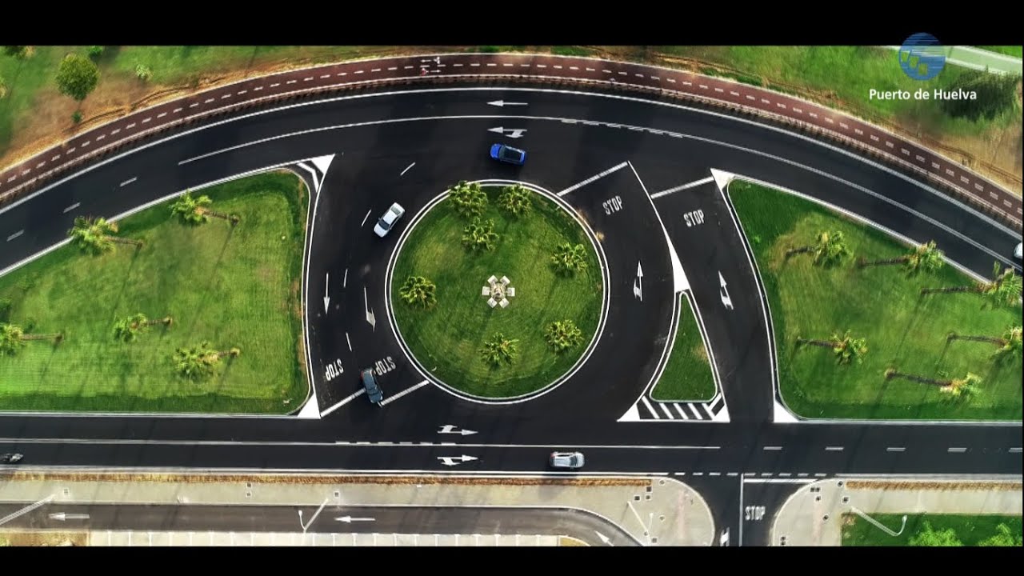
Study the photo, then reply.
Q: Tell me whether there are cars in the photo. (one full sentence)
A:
Yes, a car can be made out from above.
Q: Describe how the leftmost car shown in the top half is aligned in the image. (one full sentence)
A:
In this picture, the leftmost car shown in the top half lies at an angle.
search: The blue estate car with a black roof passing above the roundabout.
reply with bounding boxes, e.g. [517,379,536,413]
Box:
[490,143,526,164]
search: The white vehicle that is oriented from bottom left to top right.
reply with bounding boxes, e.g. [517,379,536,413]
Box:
[374,203,404,236]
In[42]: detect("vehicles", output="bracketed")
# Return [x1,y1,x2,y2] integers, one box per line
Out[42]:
[549,450,583,469]
[360,368,383,402]
[374,203,404,236]
[1015,244,1024,261]
[490,143,526,164]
